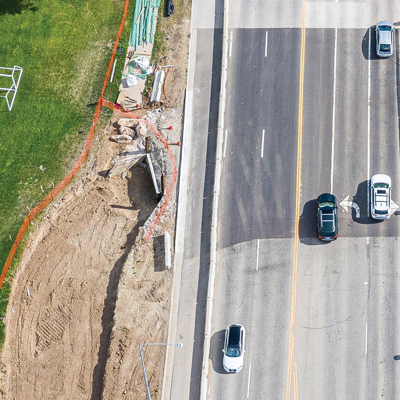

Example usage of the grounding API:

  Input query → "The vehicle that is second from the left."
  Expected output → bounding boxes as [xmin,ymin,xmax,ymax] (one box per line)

[314,193,339,243]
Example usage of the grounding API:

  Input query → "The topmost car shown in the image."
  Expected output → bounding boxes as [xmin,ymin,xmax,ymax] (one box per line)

[374,21,396,60]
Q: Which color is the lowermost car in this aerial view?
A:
white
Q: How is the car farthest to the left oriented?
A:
from top to bottom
